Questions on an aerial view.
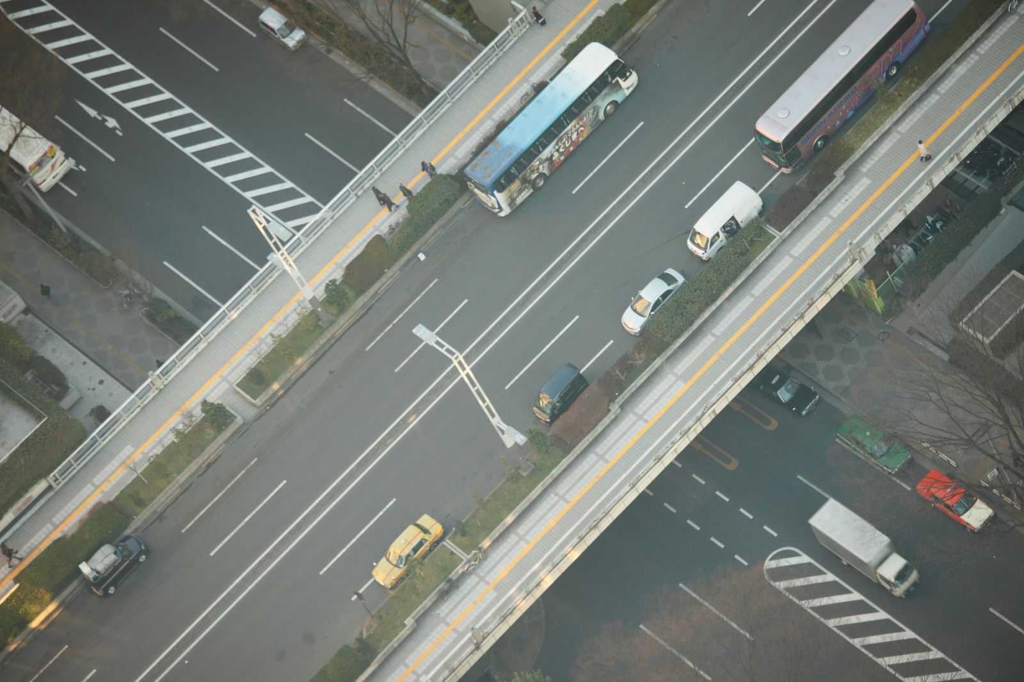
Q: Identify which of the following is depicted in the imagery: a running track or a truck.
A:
truck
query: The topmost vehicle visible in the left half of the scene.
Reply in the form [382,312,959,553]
[256,8,309,54]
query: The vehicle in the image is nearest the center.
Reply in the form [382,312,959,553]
[527,357,593,425]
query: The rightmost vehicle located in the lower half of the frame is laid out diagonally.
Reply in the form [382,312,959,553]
[915,469,994,534]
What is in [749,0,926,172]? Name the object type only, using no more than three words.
bus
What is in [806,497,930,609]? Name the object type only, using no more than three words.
truck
